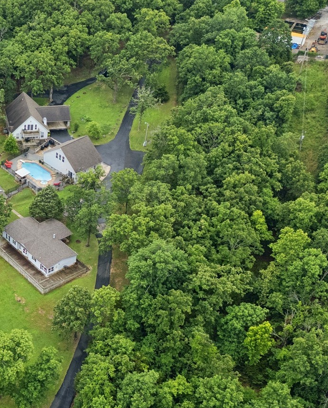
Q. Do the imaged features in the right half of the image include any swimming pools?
No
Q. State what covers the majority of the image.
trees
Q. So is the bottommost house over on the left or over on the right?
left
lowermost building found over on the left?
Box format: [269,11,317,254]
[4,217,77,276]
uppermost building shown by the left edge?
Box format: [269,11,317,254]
[4,92,72,147]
